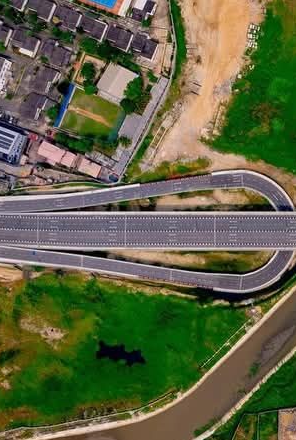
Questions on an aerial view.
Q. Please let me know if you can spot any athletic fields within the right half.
No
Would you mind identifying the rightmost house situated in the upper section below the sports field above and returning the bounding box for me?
[78,158,105,179]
